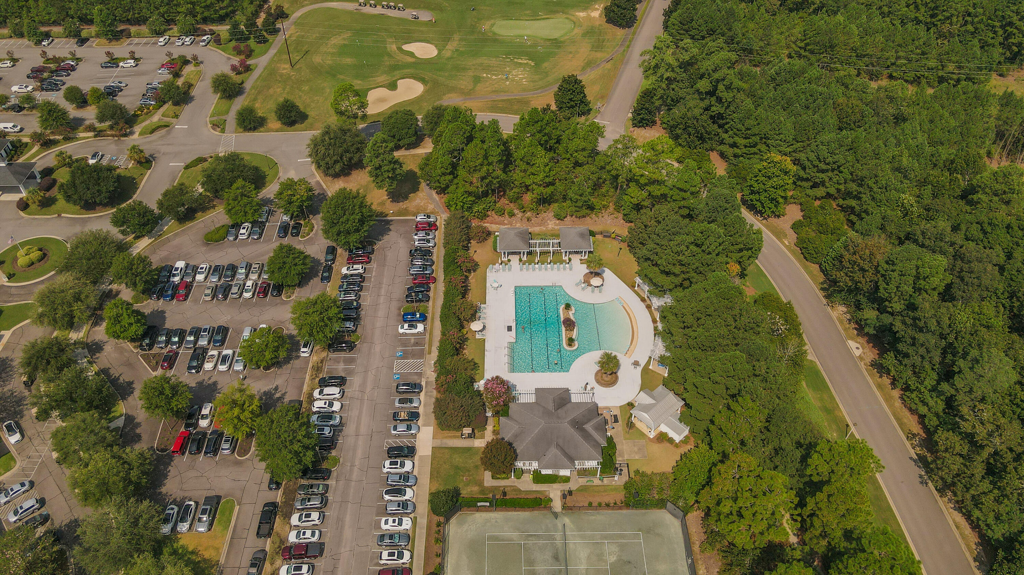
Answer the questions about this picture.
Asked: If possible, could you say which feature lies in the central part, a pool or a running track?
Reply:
pool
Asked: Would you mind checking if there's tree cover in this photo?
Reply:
Yes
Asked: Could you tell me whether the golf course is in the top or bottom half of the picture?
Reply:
top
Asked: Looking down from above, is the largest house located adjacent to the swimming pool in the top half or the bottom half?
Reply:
bottom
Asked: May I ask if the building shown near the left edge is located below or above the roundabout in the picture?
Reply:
above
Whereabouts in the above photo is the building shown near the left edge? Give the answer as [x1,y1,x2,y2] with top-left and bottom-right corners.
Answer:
[0,138,42,197]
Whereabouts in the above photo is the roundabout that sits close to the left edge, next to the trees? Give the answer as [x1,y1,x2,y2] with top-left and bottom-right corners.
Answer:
[0,236,69,284]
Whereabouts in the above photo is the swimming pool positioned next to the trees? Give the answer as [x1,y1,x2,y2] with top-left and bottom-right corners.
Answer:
[476,259,654,417]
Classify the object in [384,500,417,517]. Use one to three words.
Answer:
car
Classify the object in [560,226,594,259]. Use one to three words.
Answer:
building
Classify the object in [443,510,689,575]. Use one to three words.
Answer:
tennis court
